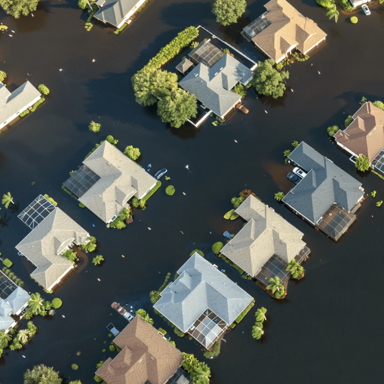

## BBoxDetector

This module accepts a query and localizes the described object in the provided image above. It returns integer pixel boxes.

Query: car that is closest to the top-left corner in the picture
[154,166,168,180]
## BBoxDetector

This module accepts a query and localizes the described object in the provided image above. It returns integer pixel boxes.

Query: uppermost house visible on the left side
[90,0,150,29]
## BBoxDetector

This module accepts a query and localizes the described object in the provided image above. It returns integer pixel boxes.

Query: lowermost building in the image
[95,315,197,384]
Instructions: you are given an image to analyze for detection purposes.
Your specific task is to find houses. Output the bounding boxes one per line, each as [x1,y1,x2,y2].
[242,0,328,63]
[0,269,32,335]
[62,140,157,224]
[95,315,197,384]
[90,0,150,29]
[15,195,89,290]
[220,194,313,294]
[0,80,42,132]
[178,38,255,120]
[333,101,384,176]
[154,253,253,351]
[283,141,370,243]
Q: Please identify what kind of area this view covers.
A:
residential area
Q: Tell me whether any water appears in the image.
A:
Yes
